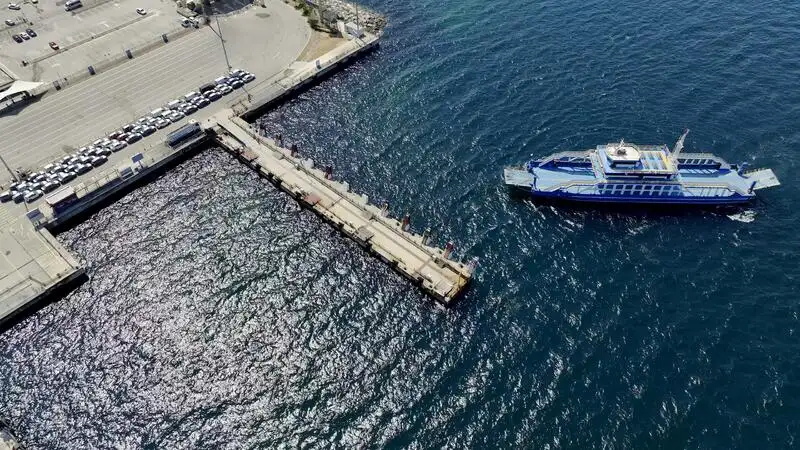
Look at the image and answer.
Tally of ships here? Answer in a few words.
1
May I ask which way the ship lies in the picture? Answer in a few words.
from left to right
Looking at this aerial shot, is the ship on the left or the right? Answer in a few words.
right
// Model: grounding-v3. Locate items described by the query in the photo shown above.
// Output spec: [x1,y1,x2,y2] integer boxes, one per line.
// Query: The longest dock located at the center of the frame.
[208,117,480,303]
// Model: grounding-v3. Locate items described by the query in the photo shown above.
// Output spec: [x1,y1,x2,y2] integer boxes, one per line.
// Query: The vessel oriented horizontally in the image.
[503,132,788,203]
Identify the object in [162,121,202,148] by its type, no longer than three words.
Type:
bus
